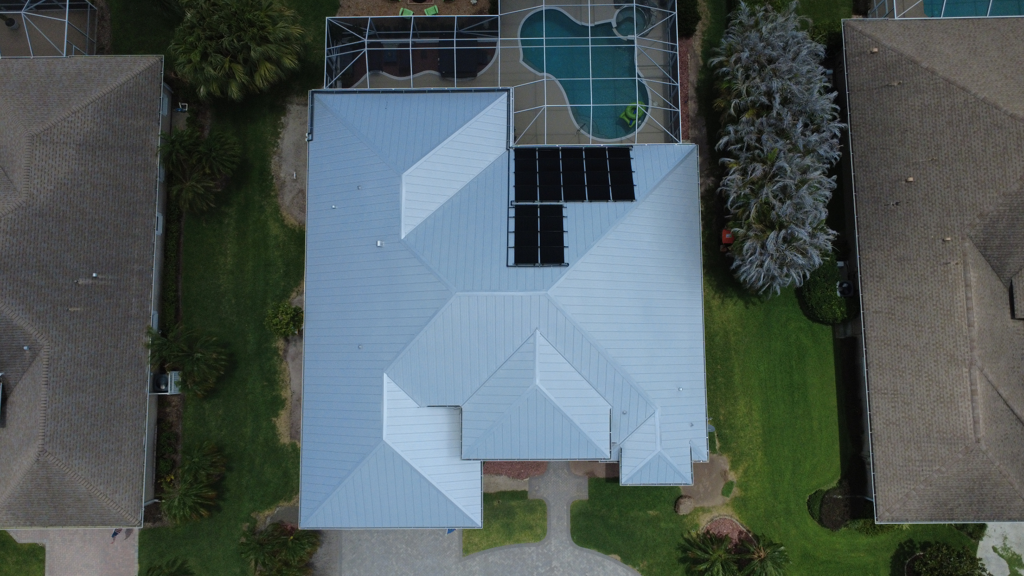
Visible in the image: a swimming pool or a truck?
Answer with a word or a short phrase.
swimming pool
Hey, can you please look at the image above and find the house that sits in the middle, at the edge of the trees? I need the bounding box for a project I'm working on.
[299,88,709,530]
